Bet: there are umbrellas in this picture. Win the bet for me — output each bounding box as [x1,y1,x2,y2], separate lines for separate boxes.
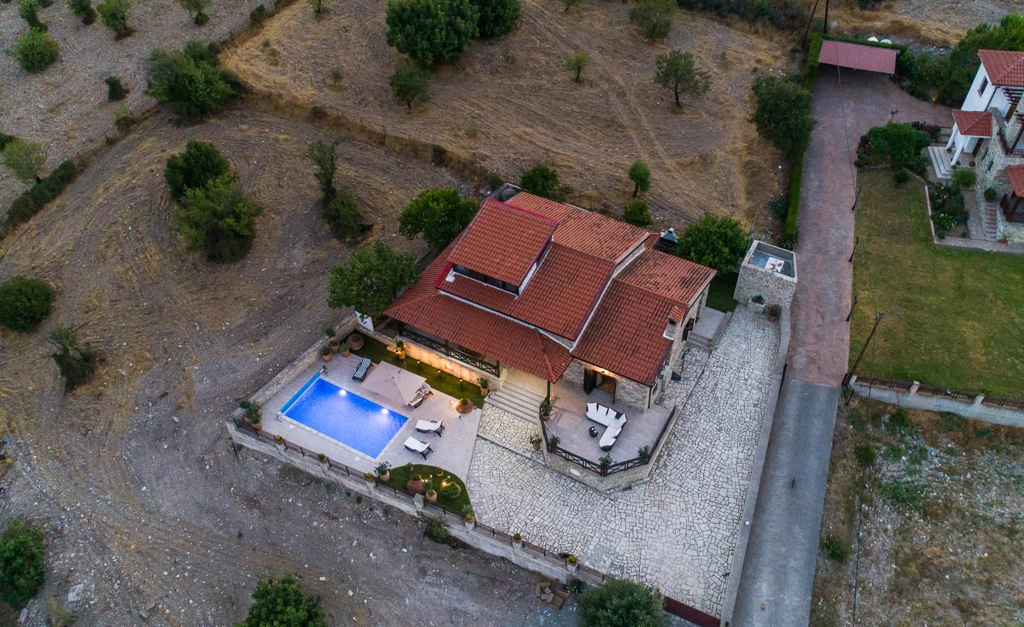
[362,357,427,406]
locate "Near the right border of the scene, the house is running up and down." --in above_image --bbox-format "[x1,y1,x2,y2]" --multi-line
[931,52,1024,246]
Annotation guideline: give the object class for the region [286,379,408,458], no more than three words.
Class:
swimming pool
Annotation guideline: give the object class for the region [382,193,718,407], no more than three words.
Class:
house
